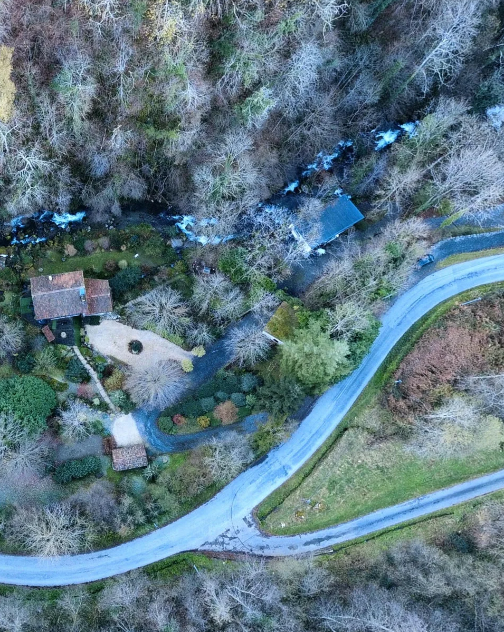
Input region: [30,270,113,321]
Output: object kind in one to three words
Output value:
house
